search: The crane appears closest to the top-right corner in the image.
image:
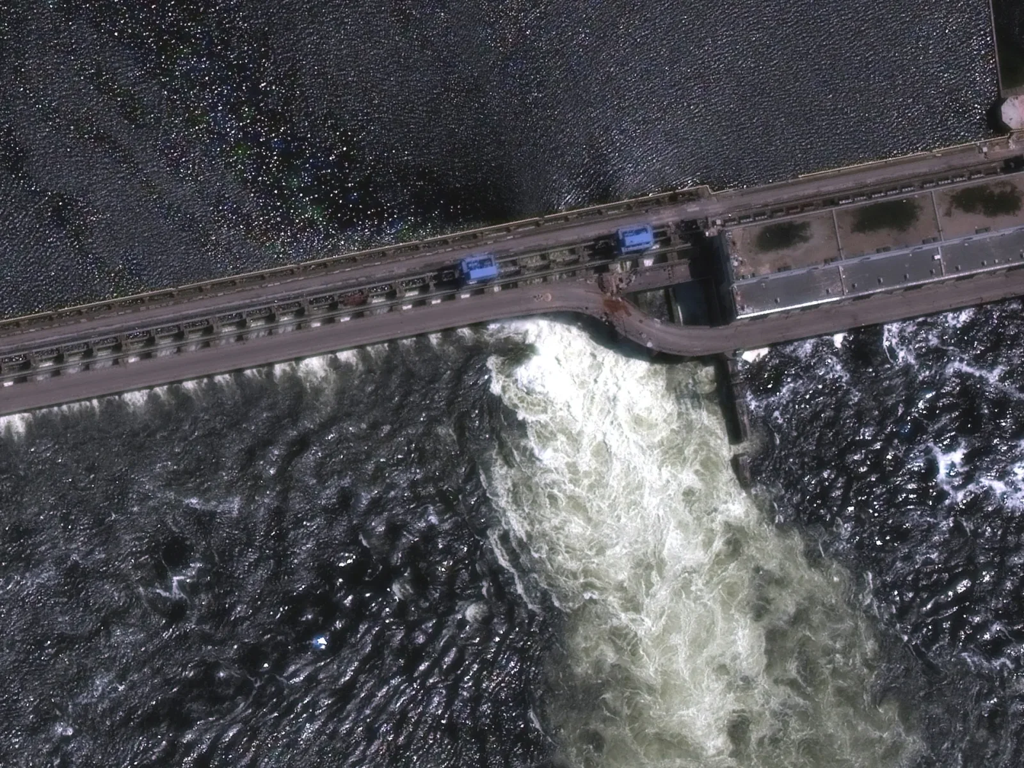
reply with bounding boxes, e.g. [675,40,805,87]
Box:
[611,223,654,263]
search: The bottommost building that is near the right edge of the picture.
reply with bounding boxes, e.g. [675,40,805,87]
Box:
[711,171,1024,320]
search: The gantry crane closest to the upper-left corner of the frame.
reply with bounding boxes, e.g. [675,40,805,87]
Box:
[453,251,496,290]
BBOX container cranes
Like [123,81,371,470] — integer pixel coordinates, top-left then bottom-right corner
[611,223,654,263]
[453,251,496,290]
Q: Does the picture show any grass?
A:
No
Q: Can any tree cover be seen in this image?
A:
No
